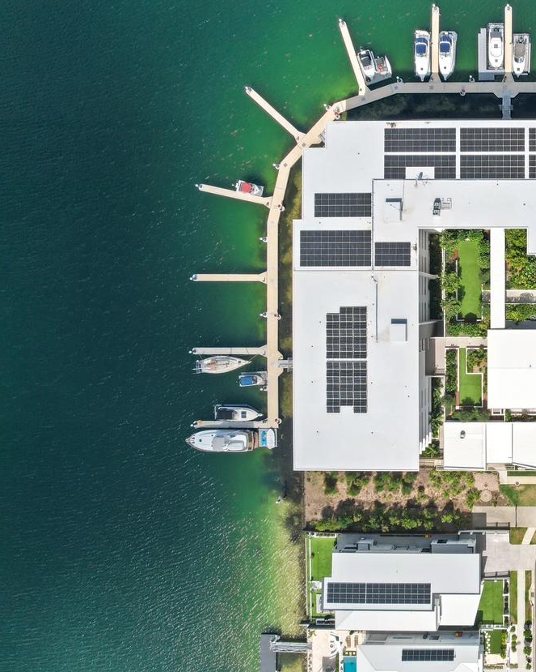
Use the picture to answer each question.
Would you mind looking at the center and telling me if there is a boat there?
Yes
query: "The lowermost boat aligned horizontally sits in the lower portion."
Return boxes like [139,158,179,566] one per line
[181,429,264,453]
